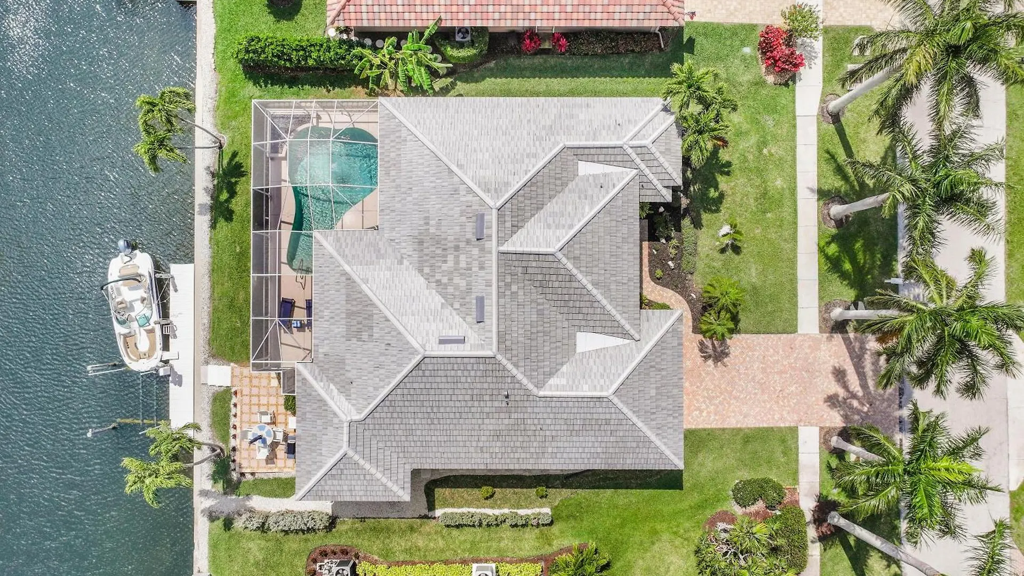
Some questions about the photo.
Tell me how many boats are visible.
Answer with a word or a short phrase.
one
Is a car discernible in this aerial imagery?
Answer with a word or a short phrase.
No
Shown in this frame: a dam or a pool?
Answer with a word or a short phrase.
pool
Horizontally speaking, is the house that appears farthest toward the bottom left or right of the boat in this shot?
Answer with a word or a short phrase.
right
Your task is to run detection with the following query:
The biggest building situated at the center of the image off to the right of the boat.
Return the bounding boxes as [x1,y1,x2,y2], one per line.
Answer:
[294,96,685,502]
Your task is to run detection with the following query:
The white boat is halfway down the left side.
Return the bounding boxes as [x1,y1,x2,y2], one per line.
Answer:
[101,239,165,372]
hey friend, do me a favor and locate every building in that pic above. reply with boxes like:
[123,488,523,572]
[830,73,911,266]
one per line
[325,0,687,48]
[294,96,685,502]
